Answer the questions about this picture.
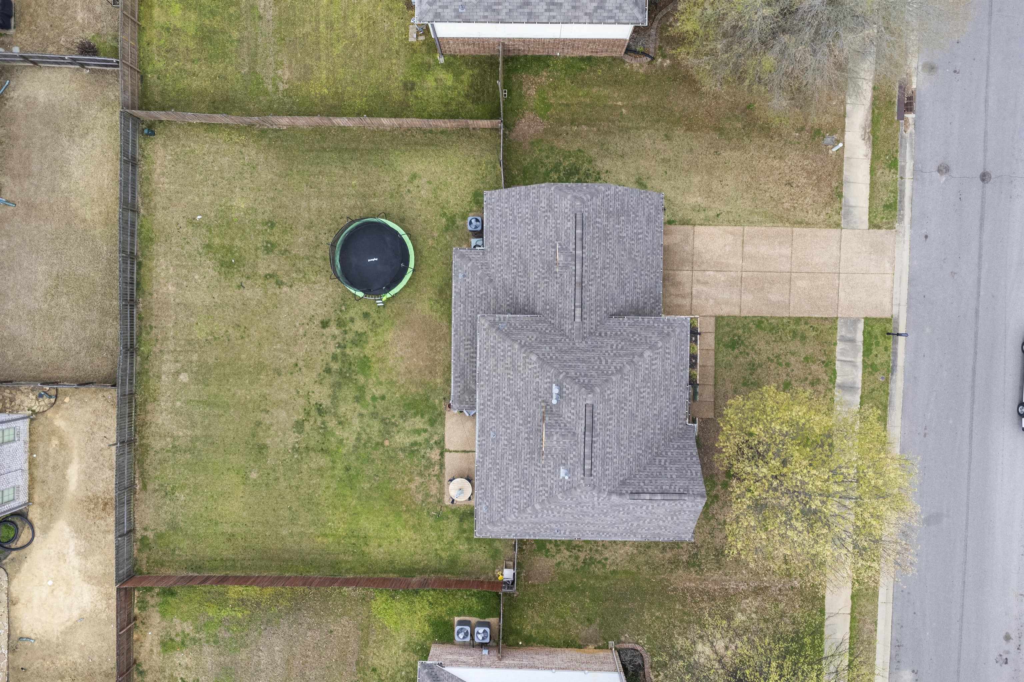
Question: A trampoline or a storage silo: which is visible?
trampoline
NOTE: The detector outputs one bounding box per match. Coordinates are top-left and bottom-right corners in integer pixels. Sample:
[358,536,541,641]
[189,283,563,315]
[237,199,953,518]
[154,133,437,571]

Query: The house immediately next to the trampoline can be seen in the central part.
[450,180,709,543]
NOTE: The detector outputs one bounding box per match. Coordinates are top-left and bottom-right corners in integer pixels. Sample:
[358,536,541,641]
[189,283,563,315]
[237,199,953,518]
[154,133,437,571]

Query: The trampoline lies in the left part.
[329,214,422,308]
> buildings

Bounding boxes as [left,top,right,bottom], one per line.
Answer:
[450,180,709,543]
[413,0,650,60]
[416,640,629,682]
[0,415,33,518]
